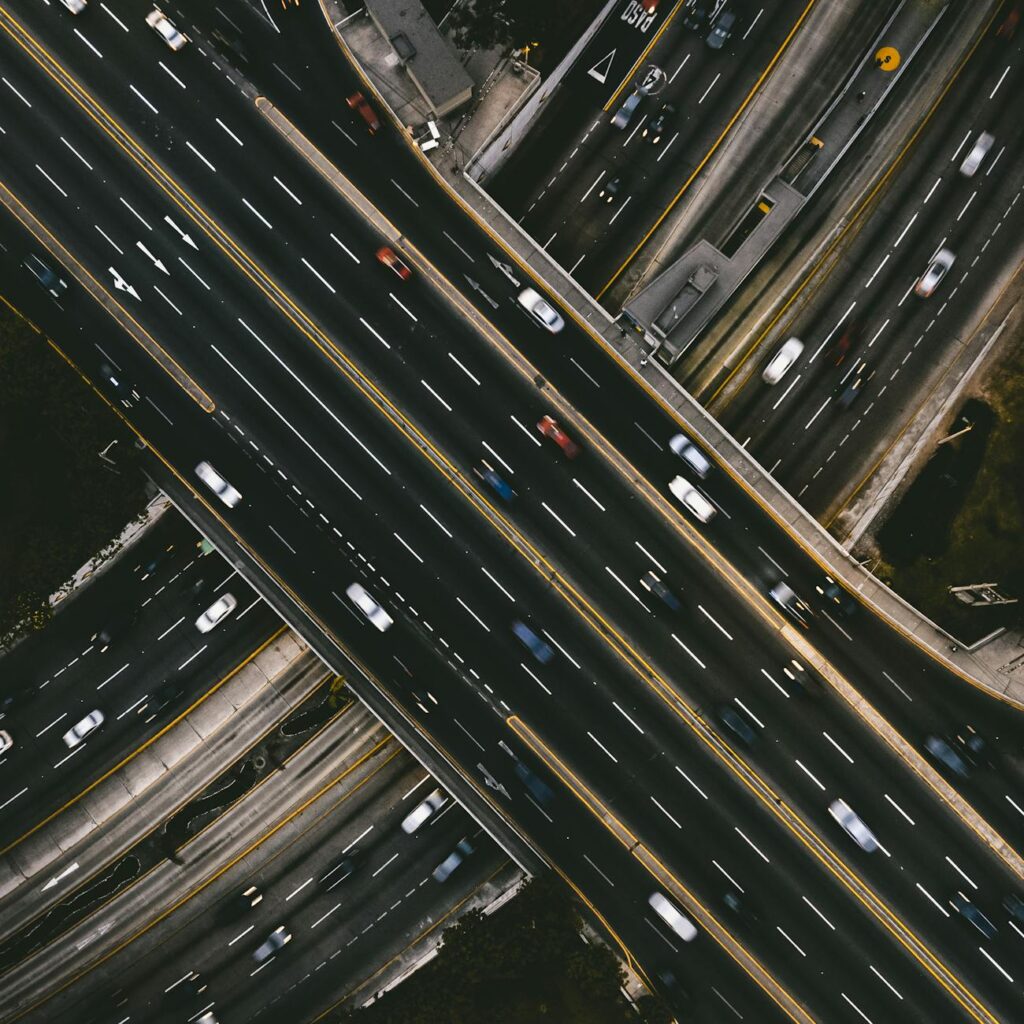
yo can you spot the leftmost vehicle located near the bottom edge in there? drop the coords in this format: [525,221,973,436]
[90,981,136,1023]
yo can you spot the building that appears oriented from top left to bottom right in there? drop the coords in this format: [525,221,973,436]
[361,0,474,116]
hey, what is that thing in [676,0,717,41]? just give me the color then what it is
black car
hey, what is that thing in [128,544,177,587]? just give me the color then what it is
black car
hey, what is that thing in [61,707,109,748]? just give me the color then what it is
white car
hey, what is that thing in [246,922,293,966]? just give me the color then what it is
gray car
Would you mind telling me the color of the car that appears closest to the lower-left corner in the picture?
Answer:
black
